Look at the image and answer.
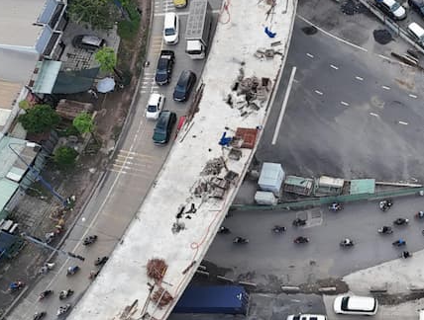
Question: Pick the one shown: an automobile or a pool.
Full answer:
The image shows an automobile.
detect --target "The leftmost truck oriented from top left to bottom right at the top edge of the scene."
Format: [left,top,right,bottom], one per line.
[372,0,408,24]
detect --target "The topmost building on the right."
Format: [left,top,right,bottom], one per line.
[258,162,288,197]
